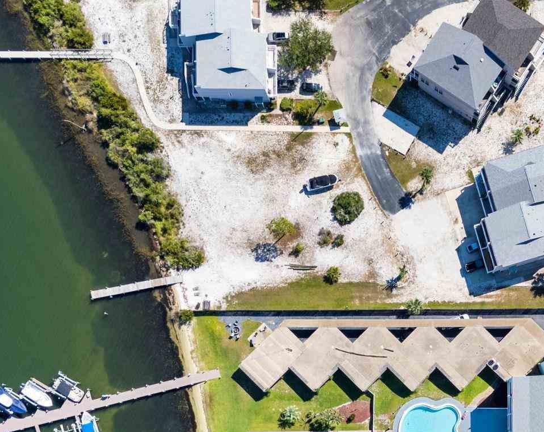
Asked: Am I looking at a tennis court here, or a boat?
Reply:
boat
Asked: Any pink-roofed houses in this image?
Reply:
No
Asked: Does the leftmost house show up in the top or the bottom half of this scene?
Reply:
top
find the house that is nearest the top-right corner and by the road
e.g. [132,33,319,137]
[412,0,544,132]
